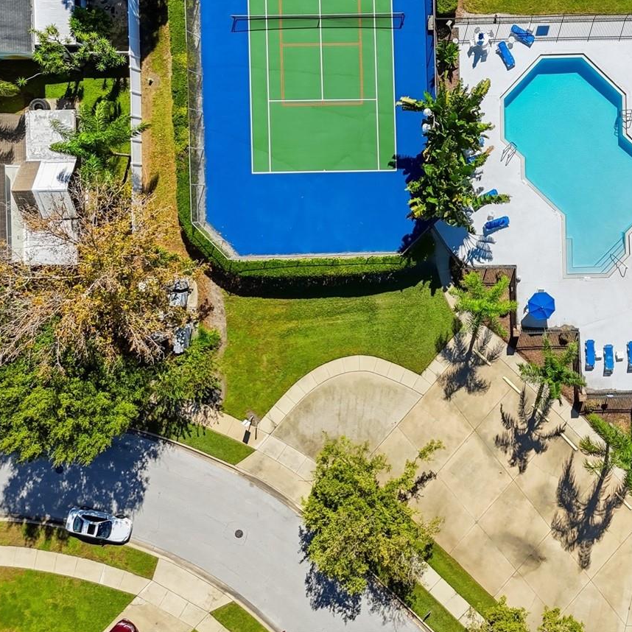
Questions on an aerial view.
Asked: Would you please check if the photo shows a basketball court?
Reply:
No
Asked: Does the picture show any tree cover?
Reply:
Yes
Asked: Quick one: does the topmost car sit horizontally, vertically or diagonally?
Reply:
horizontally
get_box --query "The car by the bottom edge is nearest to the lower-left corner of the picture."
[102,616,137,632]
